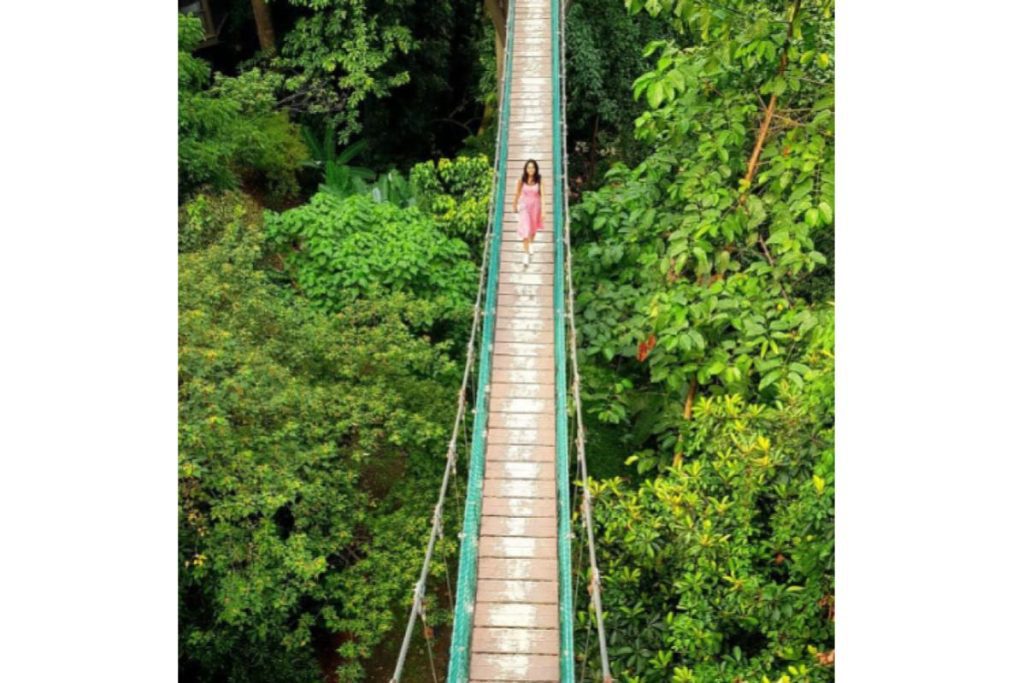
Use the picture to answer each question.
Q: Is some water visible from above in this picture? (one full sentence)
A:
No, the scene doesn't show any water.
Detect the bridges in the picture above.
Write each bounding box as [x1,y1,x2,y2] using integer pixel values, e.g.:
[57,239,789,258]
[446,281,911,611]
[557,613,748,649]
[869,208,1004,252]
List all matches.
[387,0,615,683]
